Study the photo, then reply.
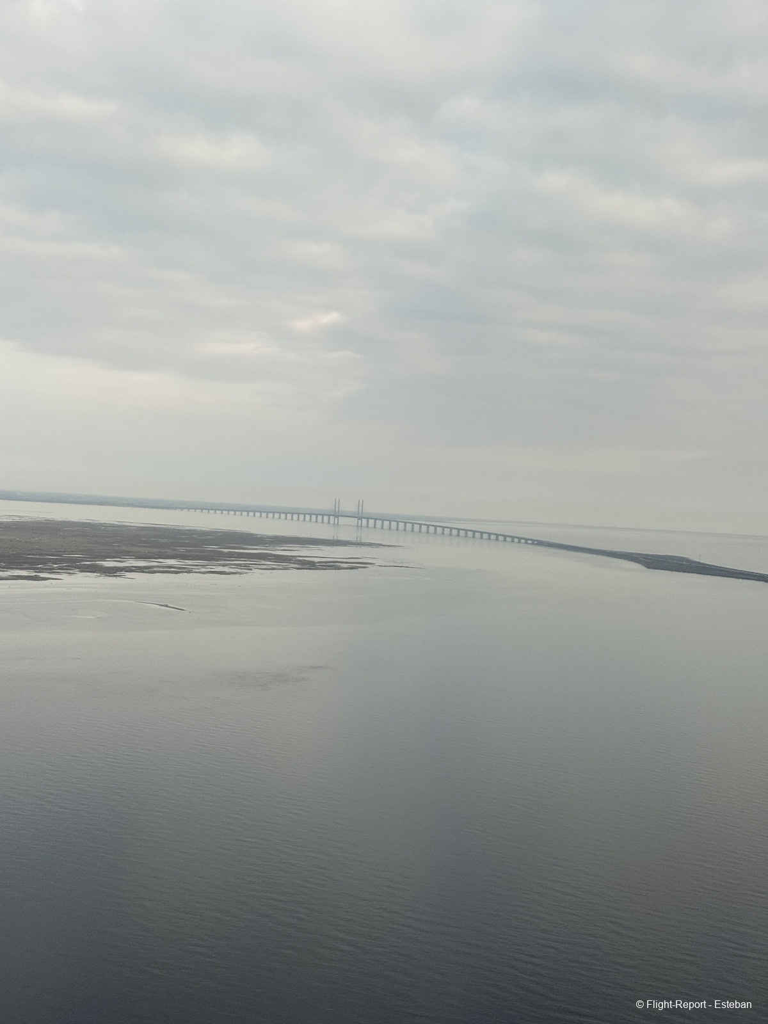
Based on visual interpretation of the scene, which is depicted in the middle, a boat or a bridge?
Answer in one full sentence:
It is a bridge that can be seen in the middle.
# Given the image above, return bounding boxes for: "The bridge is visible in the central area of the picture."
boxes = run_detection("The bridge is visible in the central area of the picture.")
[168,499,548,544]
